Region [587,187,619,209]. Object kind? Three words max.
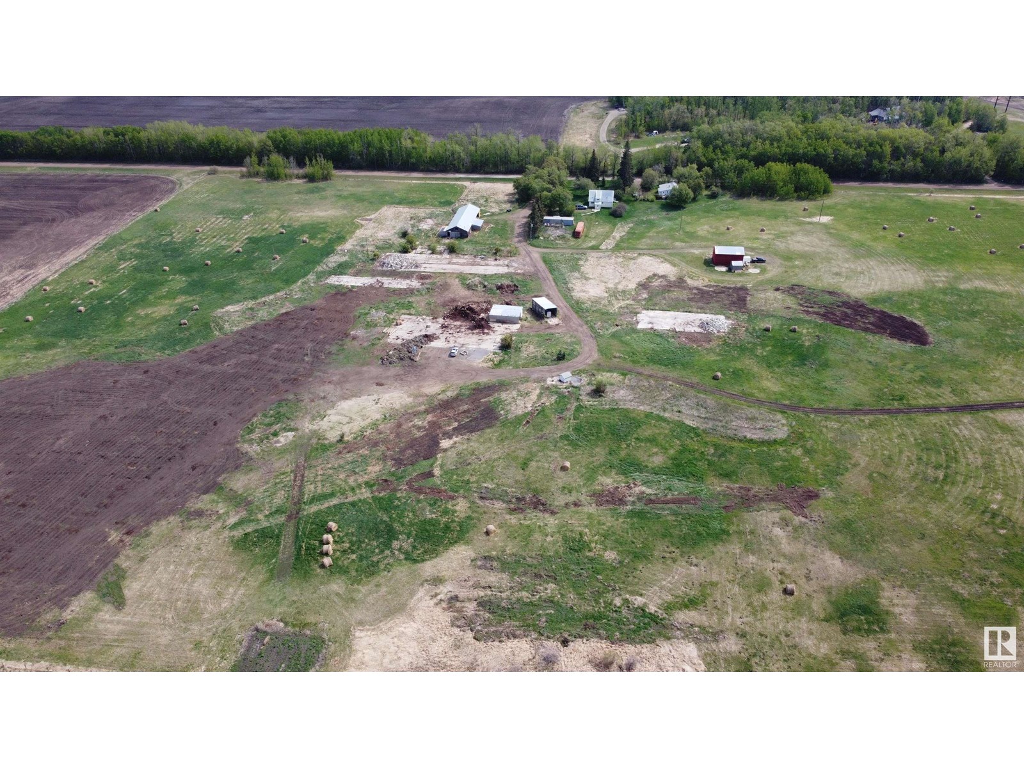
house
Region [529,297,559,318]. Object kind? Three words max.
shed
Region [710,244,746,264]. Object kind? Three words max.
barn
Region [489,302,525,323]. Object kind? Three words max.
shed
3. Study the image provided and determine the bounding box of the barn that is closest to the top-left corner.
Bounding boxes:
[438,201,485,238]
